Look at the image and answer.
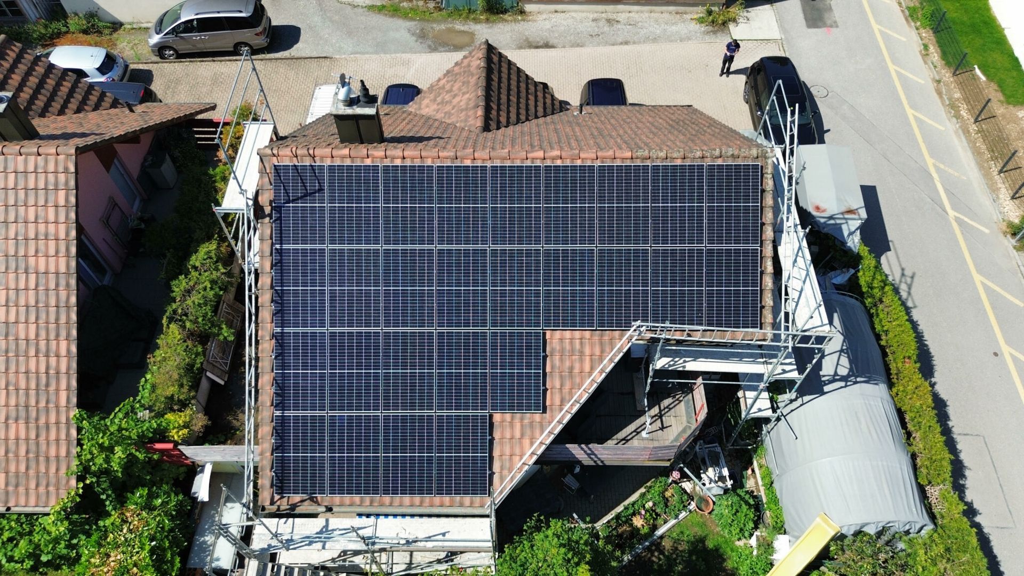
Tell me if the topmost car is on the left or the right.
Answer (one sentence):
The topmost car sits on the left side.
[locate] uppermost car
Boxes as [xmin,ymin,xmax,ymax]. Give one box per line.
[142,0,274,60]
